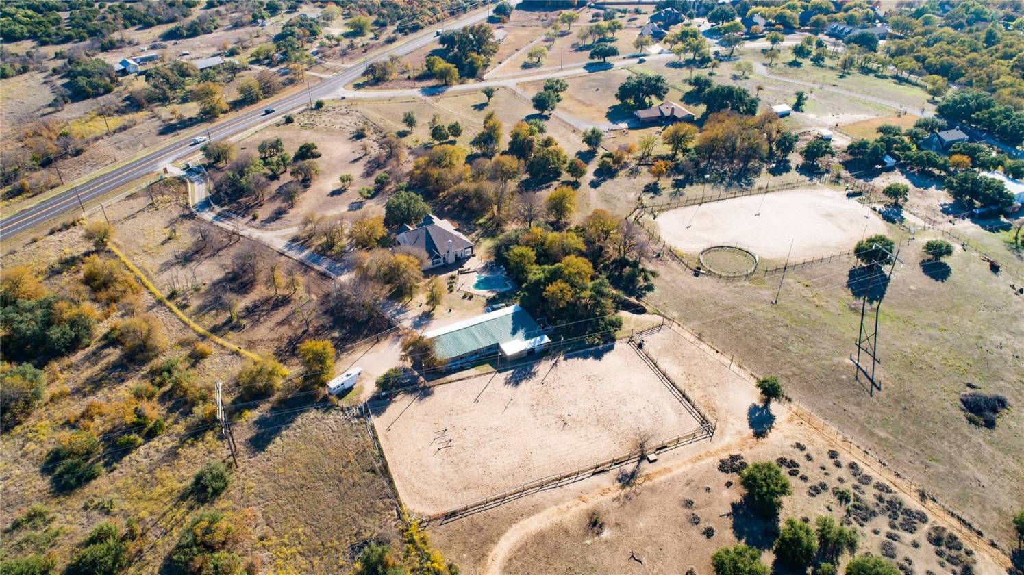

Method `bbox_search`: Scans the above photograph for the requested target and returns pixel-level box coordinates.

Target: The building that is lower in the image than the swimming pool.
[426,306,551,369]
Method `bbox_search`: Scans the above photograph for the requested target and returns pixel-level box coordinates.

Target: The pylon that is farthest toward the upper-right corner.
[865,241,903,307]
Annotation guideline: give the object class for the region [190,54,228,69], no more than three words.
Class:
shed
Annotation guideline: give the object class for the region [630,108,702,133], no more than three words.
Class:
house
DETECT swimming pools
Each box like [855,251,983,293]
[472,274,511,290]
